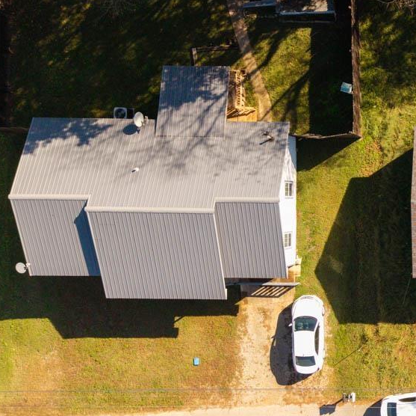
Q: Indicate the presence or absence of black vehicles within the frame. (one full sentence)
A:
No, I can't see a single black vehicle in this photo.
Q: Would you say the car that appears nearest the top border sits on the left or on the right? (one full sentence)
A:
The car that appears nearest the top border sits on the right side.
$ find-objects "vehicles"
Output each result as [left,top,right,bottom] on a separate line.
[290,292,327,374]
[380,391,416,416]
